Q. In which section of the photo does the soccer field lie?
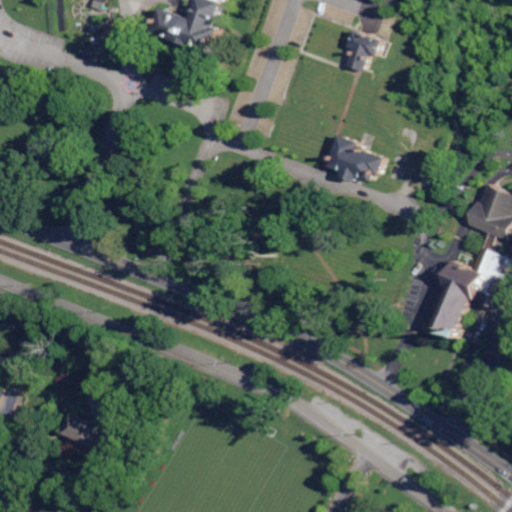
bottom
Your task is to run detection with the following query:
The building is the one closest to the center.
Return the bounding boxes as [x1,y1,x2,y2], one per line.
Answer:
[326,138,391,182]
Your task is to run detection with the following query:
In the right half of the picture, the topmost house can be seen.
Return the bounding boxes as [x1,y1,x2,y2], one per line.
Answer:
[346,30,396,71]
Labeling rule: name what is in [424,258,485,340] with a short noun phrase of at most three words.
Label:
building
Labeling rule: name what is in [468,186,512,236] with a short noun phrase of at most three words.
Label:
building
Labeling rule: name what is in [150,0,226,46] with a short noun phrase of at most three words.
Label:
house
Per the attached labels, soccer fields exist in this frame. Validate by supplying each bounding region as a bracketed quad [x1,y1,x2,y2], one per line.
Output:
[137,404,324,512]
